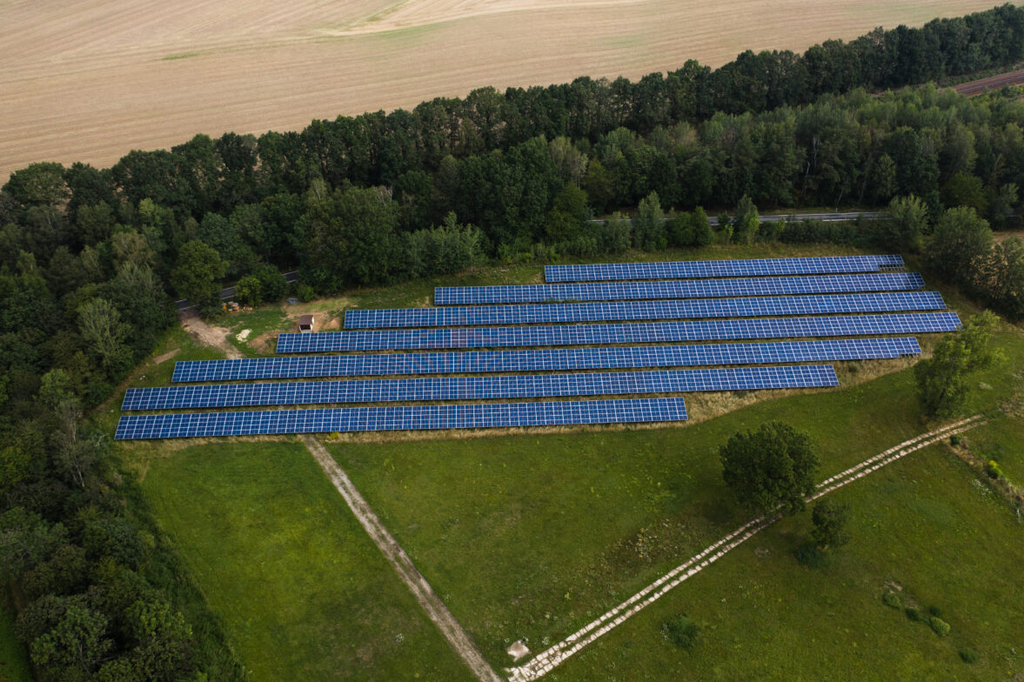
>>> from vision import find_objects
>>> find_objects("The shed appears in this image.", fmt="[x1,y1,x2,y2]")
[296,312,314,332]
